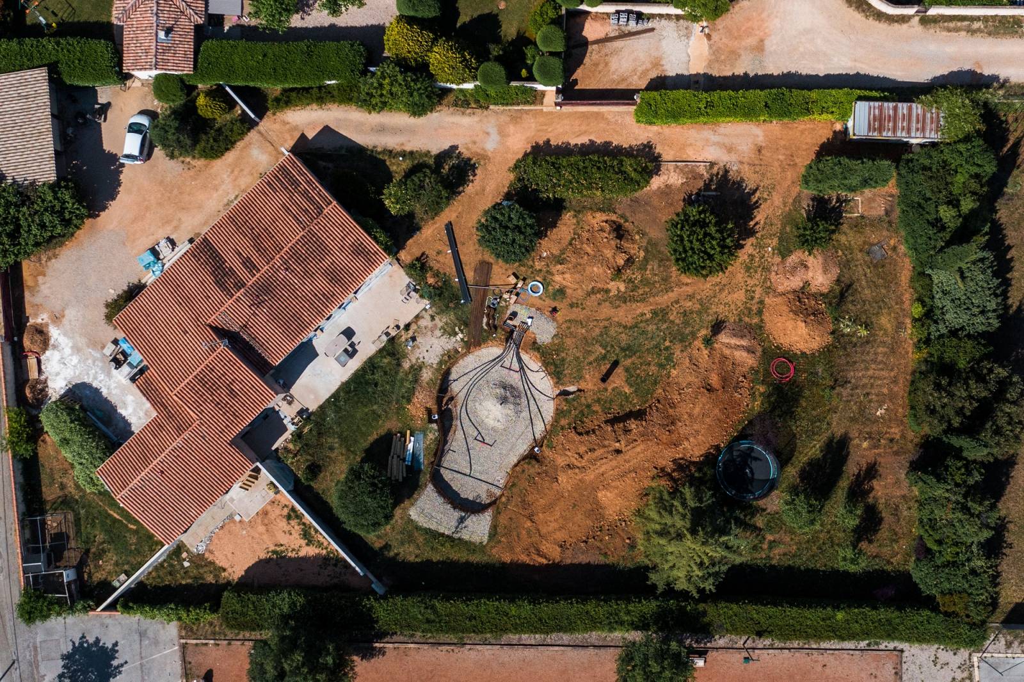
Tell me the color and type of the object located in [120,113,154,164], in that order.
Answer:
white car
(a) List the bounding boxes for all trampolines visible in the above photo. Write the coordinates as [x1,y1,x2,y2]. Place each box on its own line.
[717,440,784,503]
